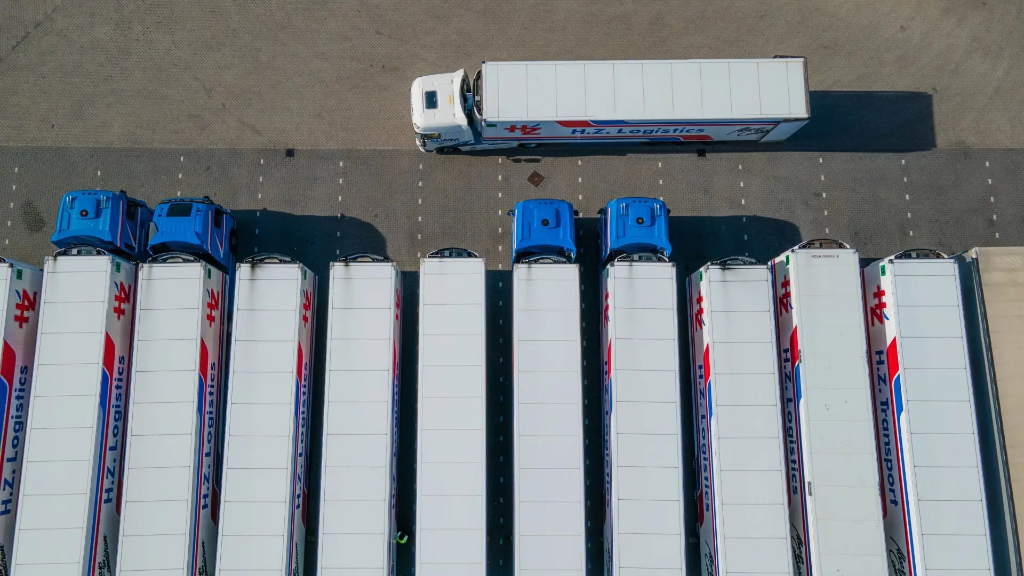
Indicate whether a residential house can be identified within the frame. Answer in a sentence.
No, no residential house is visible in the view.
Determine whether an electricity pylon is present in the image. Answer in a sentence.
No, this view has no electricity pylon in it.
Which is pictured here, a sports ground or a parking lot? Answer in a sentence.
What you see here is a parking lot.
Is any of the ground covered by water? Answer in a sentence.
No, the scene doesn't show any water.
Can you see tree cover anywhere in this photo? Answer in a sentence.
No, the picture contains no tree cover.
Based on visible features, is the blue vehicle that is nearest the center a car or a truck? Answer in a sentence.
The blue vehicle that is nearest the center can be classified as a truck.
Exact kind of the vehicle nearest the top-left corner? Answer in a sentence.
From above, the vehicle nearest the top-left corner can be identified as a truck.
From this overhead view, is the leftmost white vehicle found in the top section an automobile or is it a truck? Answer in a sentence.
I'd identify the leftmost white vehicle found in the top section as a truck.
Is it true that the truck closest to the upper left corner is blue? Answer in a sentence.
Yes, the truck closest to the upper left corner is blue.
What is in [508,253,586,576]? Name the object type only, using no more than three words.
trailer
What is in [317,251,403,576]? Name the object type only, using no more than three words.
trailer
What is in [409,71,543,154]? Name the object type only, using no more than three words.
truck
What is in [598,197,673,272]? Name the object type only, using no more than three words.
truck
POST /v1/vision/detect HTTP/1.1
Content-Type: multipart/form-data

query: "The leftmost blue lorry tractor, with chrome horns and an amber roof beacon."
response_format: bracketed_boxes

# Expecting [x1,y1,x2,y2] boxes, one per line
[51,190,151,267]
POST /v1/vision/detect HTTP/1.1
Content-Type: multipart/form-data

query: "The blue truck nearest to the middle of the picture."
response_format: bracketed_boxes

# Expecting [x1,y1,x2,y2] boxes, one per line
[508,198,581,264]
